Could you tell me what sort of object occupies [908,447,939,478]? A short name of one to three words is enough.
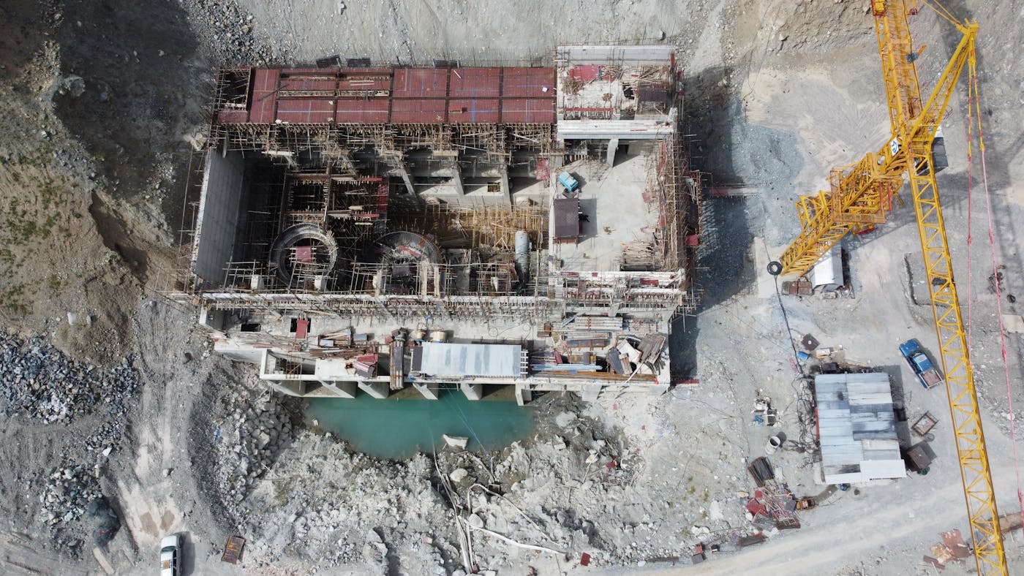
shed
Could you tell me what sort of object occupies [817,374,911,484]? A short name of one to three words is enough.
shed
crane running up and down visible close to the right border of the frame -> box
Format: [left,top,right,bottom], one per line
[774,0,1024,576]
